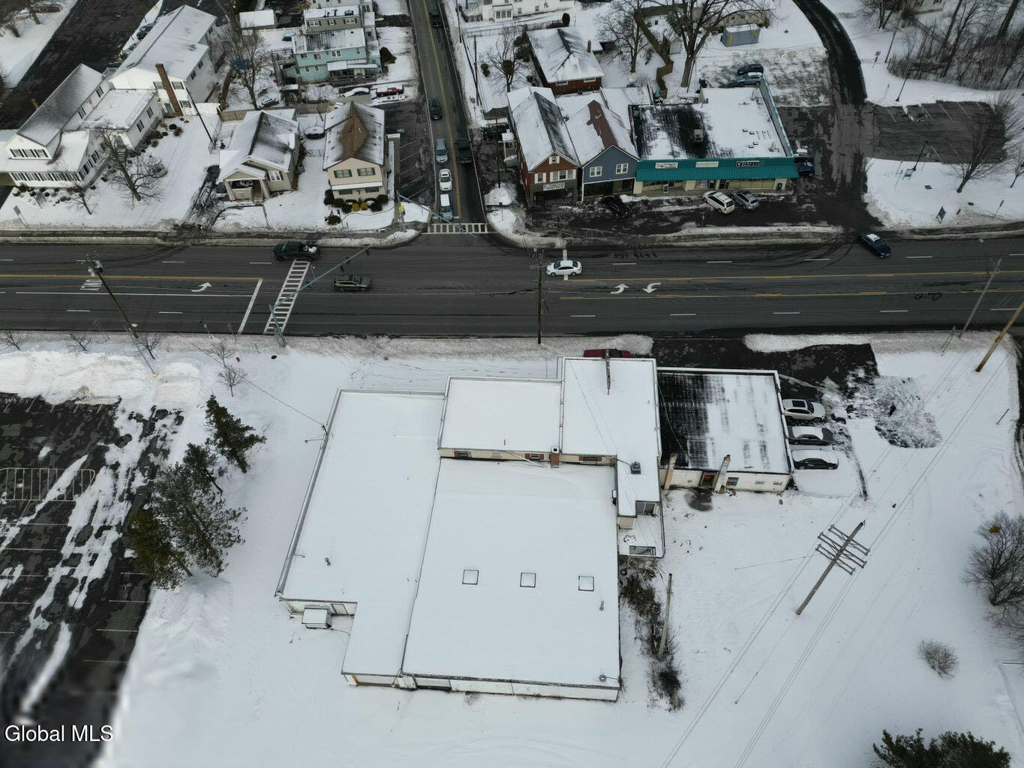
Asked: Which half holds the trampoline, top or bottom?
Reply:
top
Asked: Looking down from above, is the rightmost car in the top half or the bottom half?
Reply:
top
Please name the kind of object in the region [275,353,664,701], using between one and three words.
building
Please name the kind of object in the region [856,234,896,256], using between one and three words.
car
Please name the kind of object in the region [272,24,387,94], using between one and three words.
house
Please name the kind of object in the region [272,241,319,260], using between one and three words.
vehicle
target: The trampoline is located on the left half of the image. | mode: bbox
[301,120,324,142]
